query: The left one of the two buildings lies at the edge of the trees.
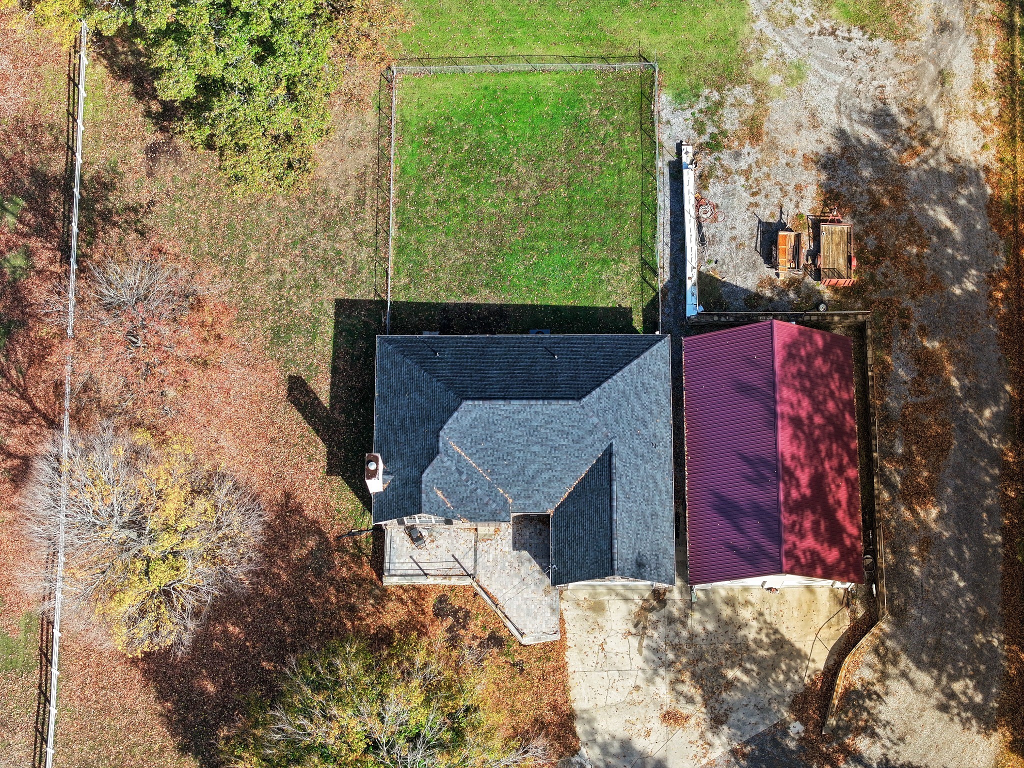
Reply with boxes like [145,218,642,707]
[364,334,677,591]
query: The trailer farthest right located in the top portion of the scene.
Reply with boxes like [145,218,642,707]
[816,206,857,281]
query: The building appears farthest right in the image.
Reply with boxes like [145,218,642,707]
[681,319,866,587]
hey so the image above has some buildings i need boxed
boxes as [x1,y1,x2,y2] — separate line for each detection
[681,319,866,587]
[364,334,677,591]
